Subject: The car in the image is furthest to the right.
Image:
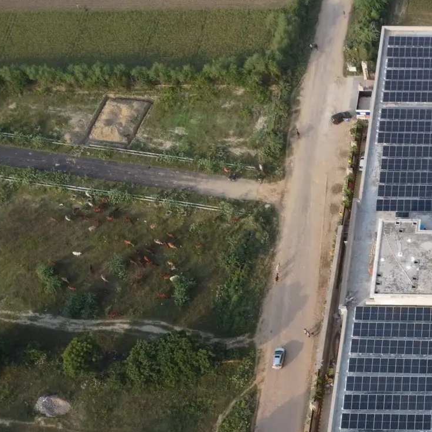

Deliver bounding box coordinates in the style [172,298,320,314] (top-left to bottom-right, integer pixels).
[332,107,353,123]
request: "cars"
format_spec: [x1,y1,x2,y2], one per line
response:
[332,107,353,123]
[273,346,286,370]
